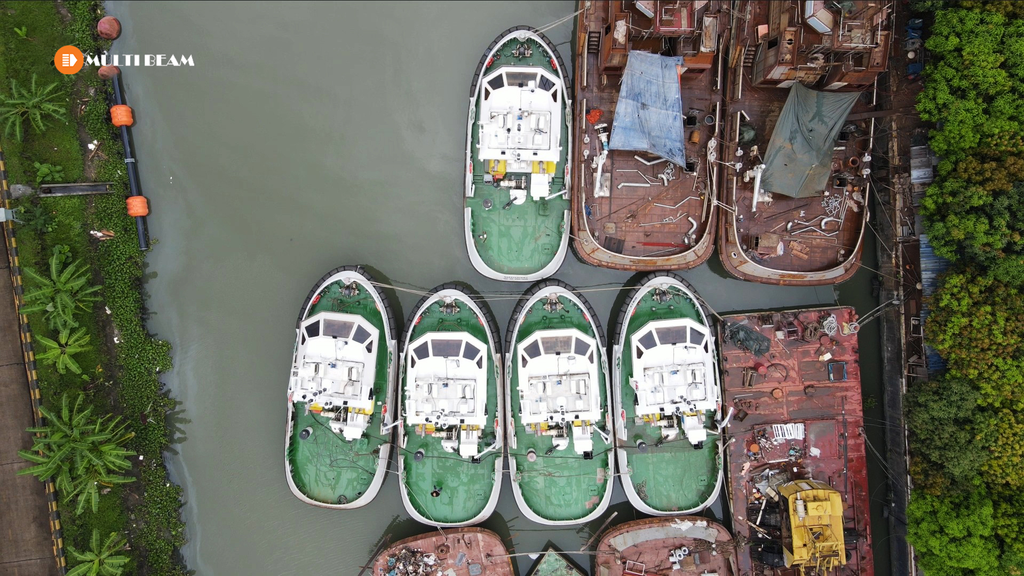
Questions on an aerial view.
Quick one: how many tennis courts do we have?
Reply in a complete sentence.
No tennis courts are visible.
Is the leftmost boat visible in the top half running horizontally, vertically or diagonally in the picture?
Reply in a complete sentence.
The leftmost boat visible in the top half runs vertically in the image.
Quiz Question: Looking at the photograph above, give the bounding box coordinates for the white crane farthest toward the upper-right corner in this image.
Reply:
[748,163,777,211]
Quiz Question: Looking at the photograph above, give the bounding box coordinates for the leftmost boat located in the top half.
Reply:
[466,26,574,281]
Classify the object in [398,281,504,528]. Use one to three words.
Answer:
boat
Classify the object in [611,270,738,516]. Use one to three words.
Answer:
boat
